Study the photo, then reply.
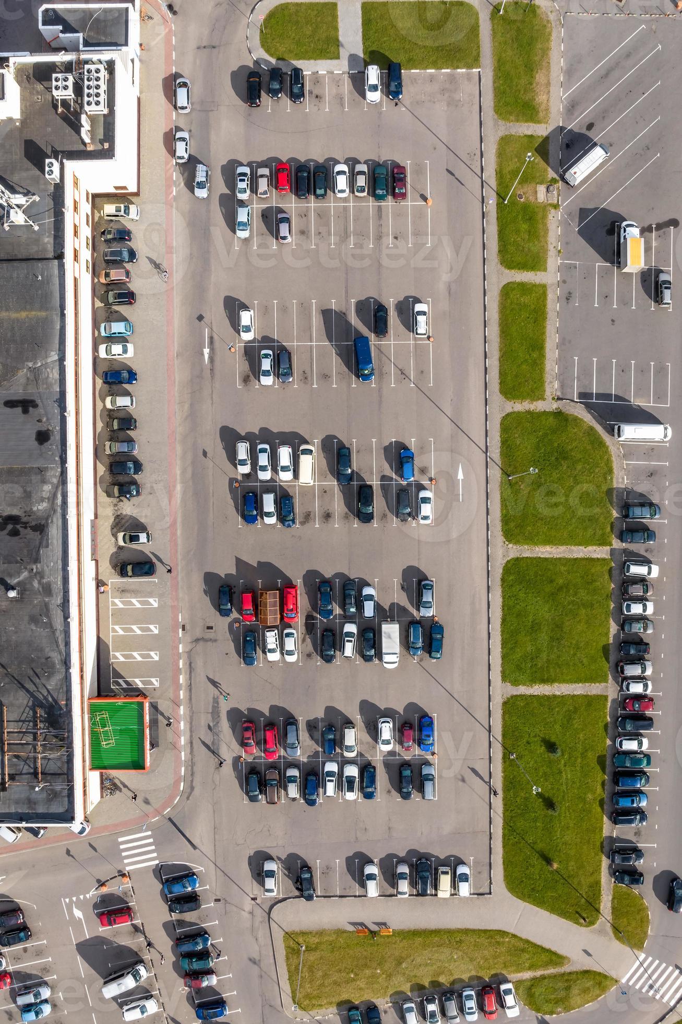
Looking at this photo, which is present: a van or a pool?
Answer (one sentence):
There is a van in the scene.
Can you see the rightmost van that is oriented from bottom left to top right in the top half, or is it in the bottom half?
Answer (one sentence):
It is in the top half that the rightmost van that is oriented from bottom left to top right appears.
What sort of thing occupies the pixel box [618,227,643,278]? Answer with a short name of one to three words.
truck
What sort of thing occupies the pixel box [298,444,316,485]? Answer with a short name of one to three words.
vehicle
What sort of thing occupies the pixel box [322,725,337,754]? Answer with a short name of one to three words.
car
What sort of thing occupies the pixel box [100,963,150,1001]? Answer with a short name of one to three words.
van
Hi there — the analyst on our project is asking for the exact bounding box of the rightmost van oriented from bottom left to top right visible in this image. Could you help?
[565,145,608,186]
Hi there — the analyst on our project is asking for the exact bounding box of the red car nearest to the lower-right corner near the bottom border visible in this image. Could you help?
[480,984,500,1020]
